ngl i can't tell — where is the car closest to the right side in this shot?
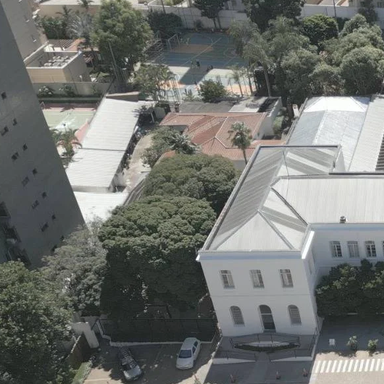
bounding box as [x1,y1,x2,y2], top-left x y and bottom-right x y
[168,333,203,369]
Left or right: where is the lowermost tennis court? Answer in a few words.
left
